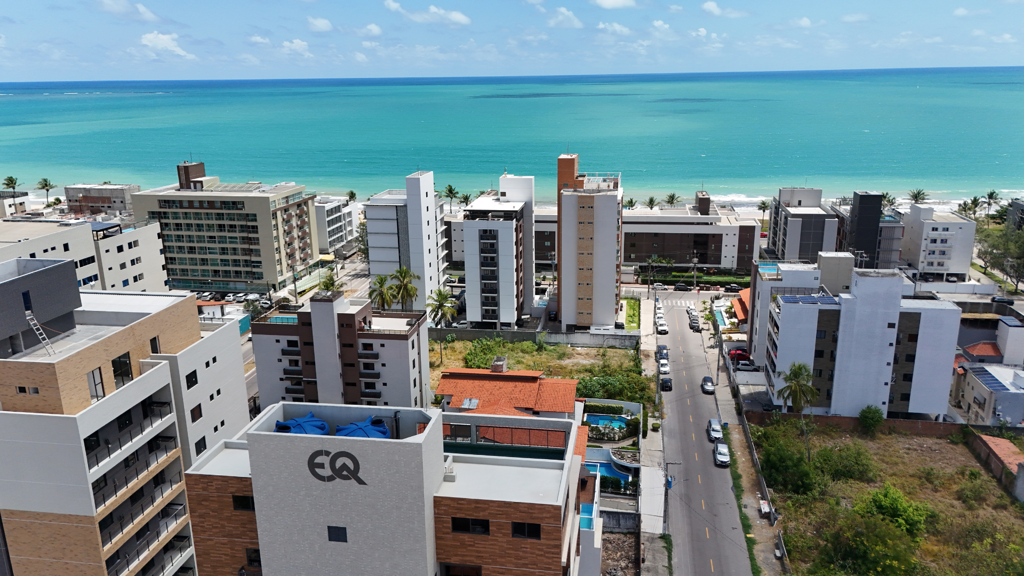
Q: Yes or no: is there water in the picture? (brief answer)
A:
Yes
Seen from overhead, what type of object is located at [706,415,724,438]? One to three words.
car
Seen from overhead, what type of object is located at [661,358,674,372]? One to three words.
vehicle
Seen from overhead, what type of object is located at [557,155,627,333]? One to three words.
building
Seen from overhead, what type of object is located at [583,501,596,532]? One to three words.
swimming pool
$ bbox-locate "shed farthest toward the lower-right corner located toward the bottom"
[984,432,1024,477]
